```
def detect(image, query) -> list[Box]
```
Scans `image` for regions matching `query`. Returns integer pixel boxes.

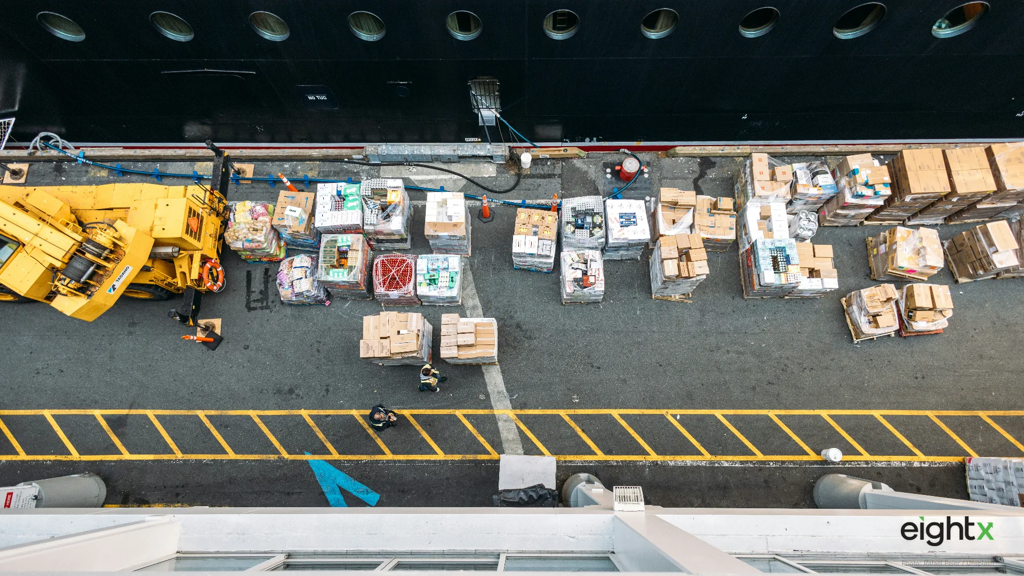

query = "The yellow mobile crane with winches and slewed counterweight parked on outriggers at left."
[0,139,248,336]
